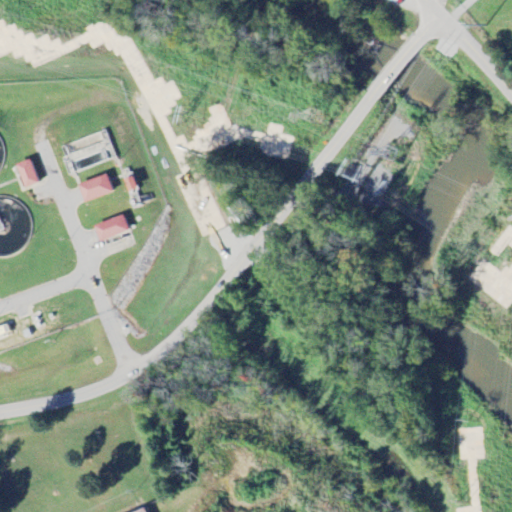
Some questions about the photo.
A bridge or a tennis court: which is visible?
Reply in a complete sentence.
There is a bridge in the scene.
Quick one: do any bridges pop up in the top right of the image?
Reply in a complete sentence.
Yes, I can see a bridge in the top right of the image.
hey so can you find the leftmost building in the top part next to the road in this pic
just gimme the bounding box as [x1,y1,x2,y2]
[14,158,39,187]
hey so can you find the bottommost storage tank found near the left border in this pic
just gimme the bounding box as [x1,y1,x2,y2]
[0,192,35,260]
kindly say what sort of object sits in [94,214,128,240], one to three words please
building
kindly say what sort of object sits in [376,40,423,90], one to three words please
bridge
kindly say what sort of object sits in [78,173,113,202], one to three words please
building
